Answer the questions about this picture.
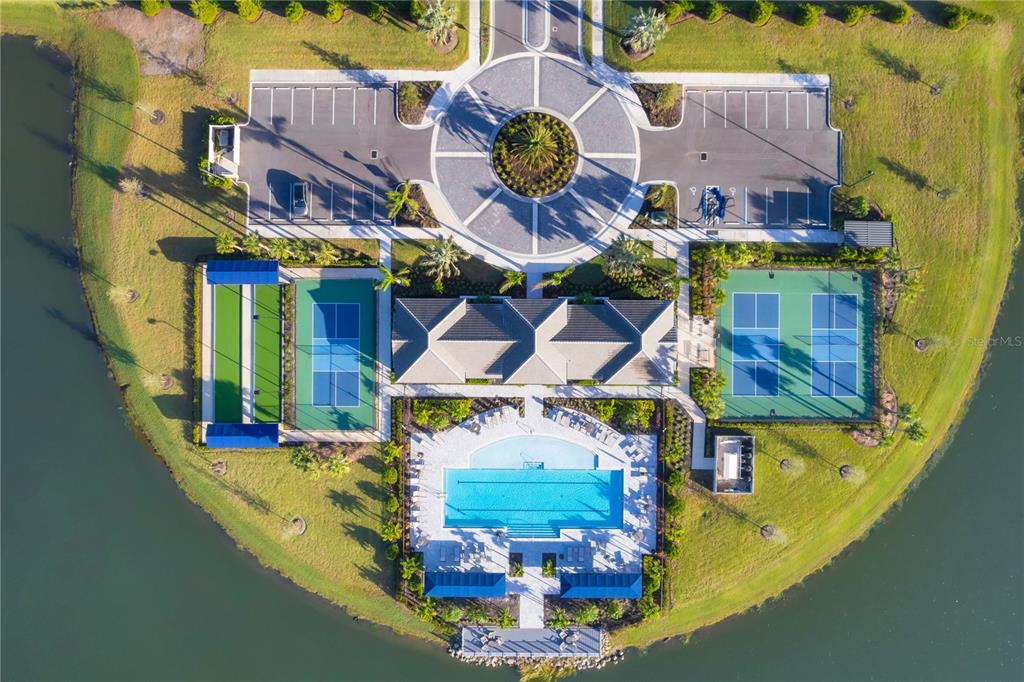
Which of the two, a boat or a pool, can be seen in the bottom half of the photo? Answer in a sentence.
Looking in the bottom half of the photo, you will find a pool.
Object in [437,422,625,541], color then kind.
blue swimming pool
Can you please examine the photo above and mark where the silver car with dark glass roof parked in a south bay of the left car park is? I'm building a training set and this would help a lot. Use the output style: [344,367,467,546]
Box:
[290,182,309,219]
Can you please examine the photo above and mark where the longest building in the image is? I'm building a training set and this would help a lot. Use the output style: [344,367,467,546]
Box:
[390,294,680,385]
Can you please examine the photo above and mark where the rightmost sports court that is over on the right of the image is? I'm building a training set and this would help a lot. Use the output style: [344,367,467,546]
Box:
[796,270,875,421]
